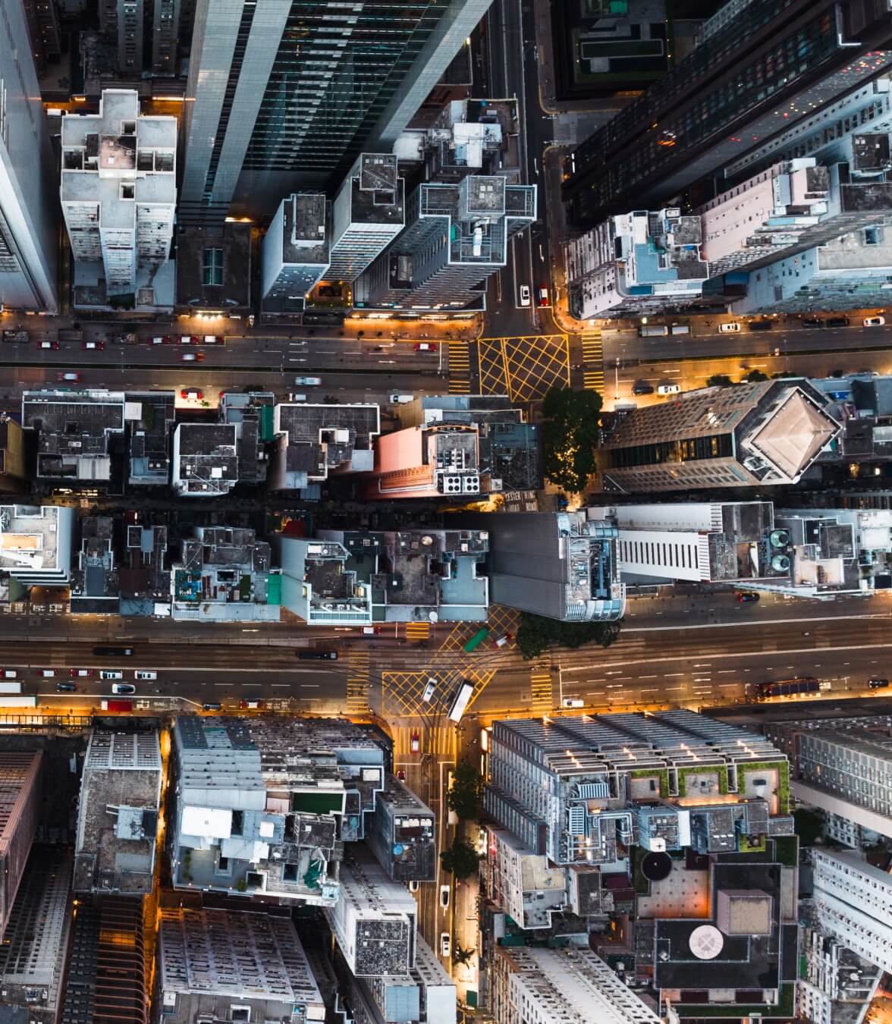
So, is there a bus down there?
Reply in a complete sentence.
Yes, I can see a bus in this picture.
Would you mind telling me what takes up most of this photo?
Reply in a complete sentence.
The bulk of the photo consists of buildings.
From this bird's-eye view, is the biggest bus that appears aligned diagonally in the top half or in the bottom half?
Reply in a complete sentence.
Seen from above, the biggest bus that appears aligned diagonally lies in the bottom half of the view.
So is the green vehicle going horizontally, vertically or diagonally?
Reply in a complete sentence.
In this picture, the green vehicle is oriented diagonally.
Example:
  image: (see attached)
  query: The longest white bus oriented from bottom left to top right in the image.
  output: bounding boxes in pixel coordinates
[444,677,481,725]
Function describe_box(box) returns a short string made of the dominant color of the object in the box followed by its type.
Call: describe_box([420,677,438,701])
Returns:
white vehicle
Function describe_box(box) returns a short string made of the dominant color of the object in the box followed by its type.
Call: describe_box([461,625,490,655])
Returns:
green vehicle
